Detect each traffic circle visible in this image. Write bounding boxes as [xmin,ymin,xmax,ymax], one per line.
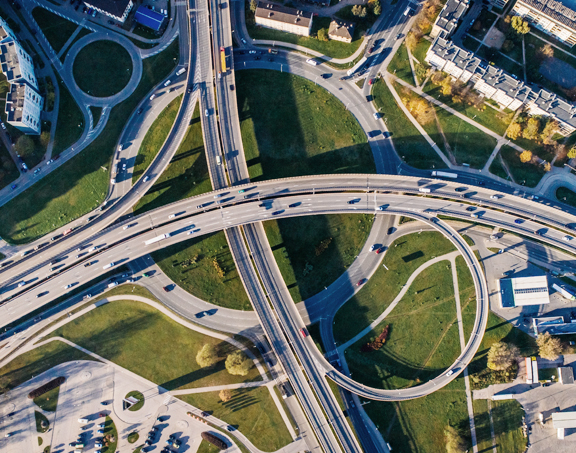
[65,32,141,105]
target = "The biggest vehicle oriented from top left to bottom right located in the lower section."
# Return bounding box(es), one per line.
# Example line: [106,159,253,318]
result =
[548,281,573,299]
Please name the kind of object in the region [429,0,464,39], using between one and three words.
building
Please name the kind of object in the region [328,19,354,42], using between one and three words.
house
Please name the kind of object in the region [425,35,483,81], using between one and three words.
building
